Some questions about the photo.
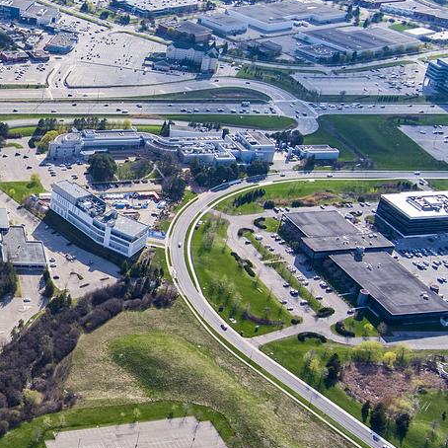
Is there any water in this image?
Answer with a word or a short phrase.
No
